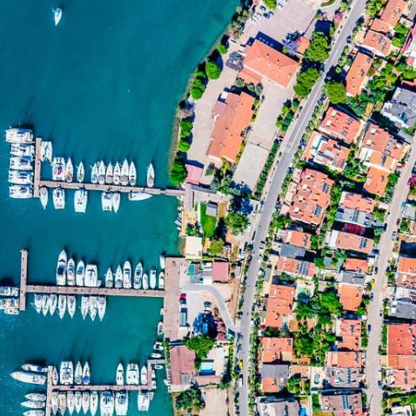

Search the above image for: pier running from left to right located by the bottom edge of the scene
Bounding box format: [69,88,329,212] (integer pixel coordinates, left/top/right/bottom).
[46,359,168,416]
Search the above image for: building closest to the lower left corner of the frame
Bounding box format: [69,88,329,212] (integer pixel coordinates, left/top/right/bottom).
[170,346,223,385]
